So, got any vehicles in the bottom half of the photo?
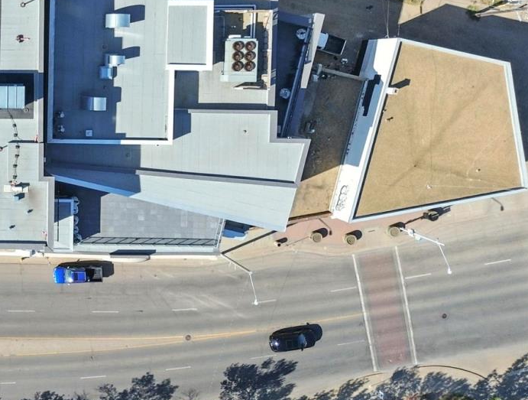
Yes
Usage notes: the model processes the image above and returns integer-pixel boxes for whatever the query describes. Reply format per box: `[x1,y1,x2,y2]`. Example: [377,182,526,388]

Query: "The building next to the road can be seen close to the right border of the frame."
[327,38,528,223]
